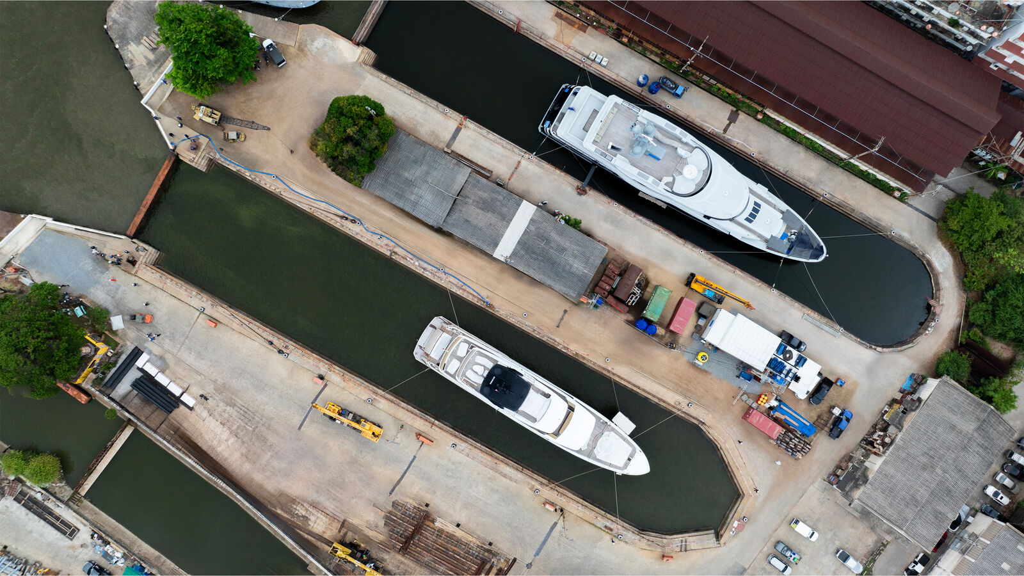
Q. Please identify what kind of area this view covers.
port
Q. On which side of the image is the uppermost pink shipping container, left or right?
right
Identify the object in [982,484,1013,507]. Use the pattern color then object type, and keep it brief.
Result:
white car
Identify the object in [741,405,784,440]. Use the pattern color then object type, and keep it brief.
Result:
pink shipping container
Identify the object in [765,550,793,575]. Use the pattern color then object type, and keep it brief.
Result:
white vehicle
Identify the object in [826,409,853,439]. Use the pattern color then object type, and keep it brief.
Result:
blue truck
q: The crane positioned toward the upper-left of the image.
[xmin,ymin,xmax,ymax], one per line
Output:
[191,103,272,132]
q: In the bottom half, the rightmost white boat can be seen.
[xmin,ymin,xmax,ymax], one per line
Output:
[413,316,650,475]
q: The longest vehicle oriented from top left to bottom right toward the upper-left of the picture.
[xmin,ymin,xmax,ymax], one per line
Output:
[262,39,287,69]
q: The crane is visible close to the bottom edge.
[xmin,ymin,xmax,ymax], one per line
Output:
[328,539,389,576]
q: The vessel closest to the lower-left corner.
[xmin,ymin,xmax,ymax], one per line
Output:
[59,384,94,404]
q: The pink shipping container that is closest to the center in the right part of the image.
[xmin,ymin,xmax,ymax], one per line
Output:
[665,296,697,335]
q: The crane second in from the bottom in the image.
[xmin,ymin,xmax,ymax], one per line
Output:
[310,400,385,442]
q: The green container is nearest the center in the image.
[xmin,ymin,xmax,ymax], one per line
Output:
[641,284,672,322]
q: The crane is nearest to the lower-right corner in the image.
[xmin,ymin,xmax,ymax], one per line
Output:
[683,273,756,310]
